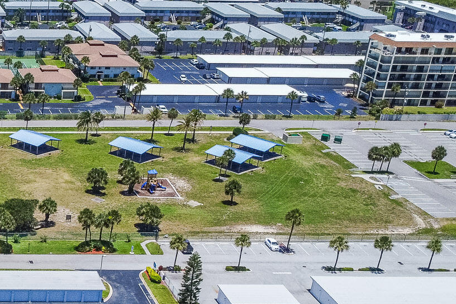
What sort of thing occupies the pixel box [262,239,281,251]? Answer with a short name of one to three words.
vehicle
